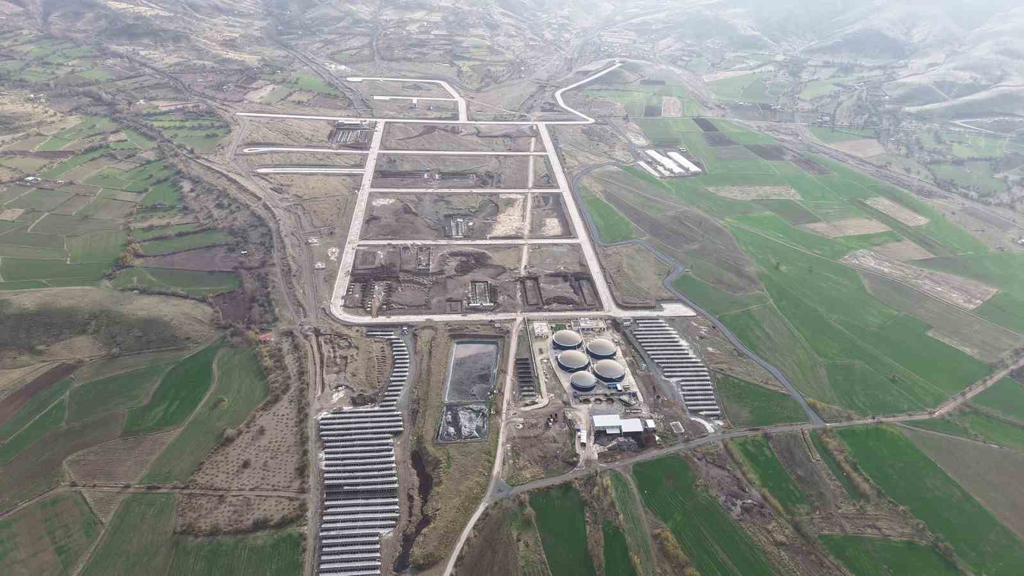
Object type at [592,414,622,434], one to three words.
building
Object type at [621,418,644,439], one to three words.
building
